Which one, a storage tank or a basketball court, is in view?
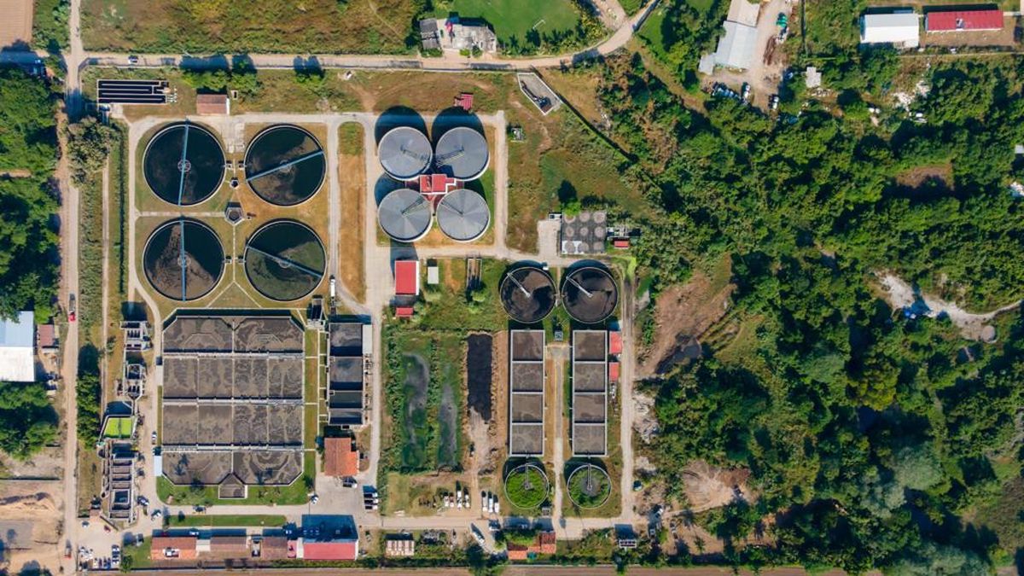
storage tank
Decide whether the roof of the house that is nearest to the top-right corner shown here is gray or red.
red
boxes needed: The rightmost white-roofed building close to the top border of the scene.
[861,14,921,49]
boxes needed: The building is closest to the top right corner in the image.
[924,9,1004,33]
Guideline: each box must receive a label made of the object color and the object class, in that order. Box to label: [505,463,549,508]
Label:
green storage tank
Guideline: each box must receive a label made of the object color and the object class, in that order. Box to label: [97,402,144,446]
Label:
green storage tank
